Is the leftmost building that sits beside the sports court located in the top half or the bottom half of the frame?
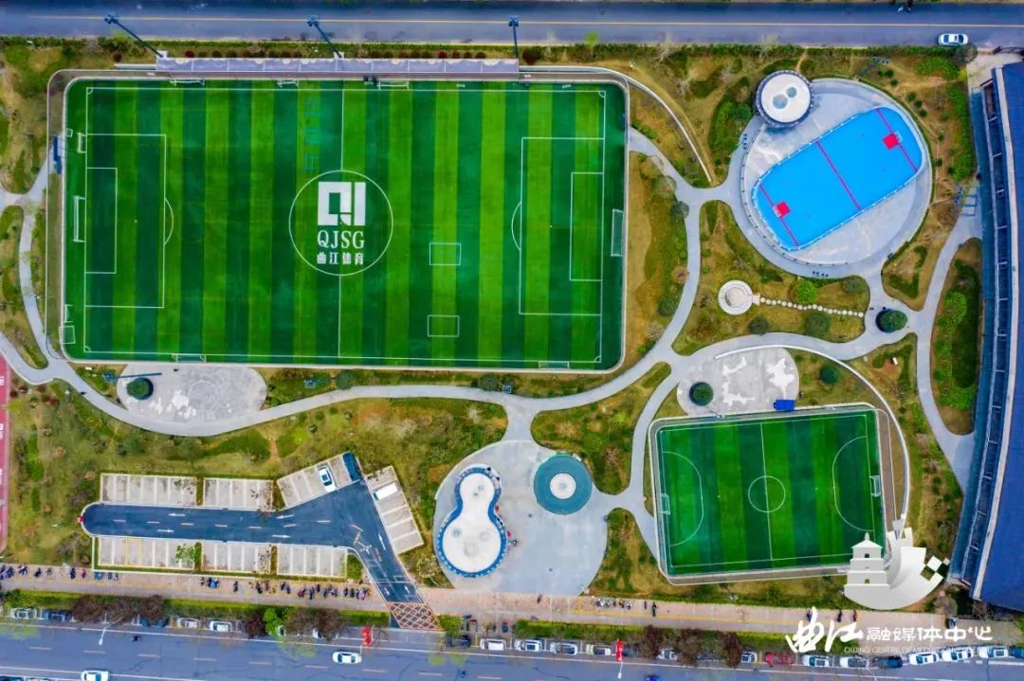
top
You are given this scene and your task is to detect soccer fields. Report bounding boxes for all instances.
[649,401,899,587]
[44,69,629,374]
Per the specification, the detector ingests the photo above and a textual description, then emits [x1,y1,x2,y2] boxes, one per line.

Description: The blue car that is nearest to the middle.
[341,452,361,480]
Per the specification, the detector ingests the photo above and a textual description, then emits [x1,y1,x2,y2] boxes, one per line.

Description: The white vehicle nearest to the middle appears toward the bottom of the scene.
[371,482,400,501]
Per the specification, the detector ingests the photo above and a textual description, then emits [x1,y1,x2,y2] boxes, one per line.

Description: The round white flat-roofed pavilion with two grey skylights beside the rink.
[750,67,815,131]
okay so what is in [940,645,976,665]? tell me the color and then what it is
white car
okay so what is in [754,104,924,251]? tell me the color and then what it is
blue sports court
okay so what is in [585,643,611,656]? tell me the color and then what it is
white vehicle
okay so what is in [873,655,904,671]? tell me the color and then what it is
blue car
